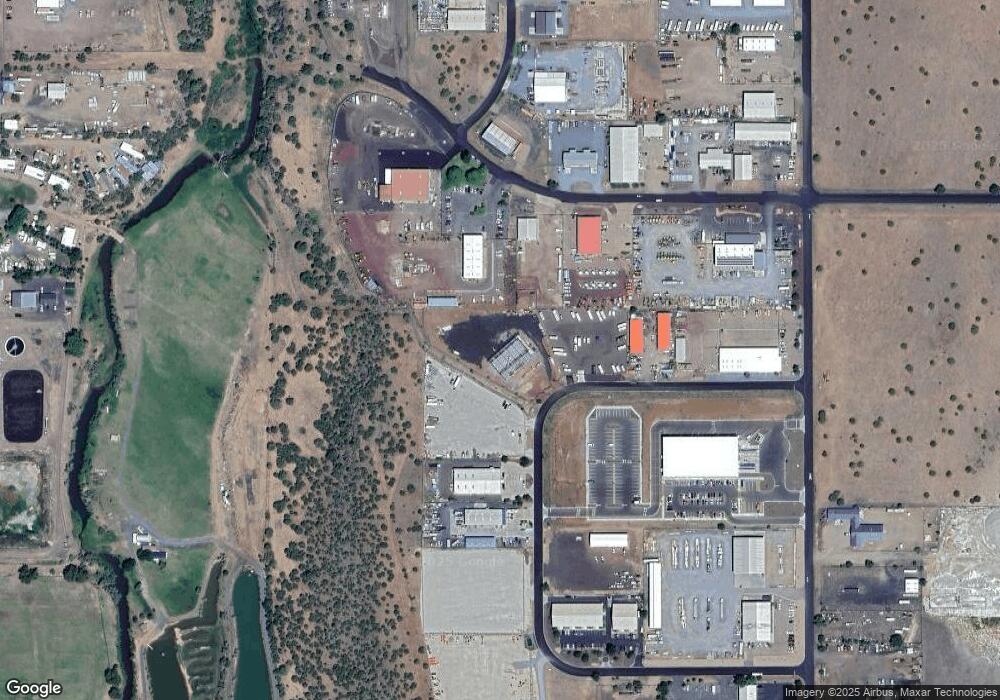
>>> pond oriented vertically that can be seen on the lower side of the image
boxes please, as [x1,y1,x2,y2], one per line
[233,571,271,700]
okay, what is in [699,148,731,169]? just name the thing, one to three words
building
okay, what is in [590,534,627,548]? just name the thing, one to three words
shed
